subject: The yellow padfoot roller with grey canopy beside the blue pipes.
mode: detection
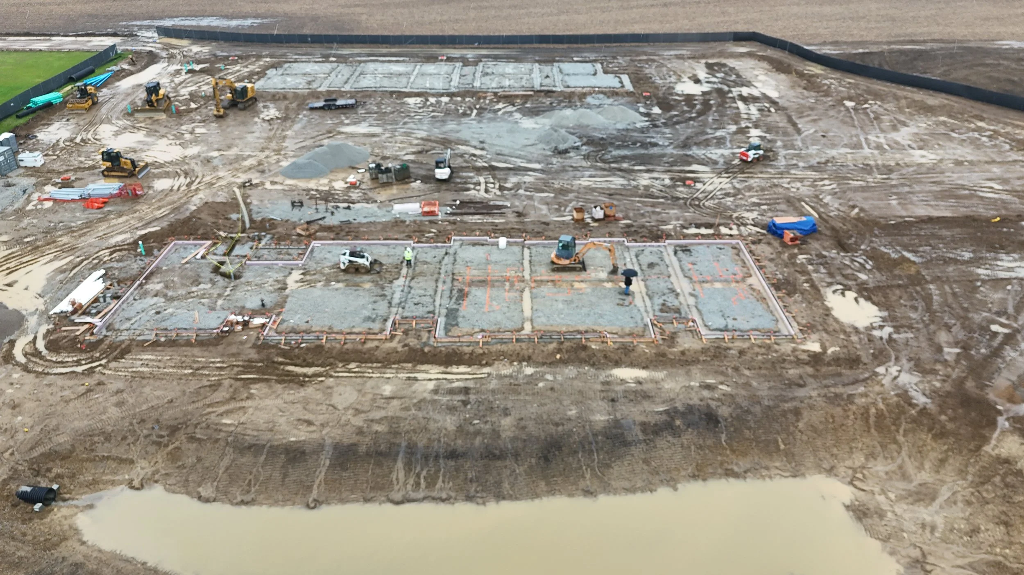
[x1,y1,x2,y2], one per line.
[62,78,109,112]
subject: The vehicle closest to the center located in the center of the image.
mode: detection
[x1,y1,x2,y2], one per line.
[551,231,621,273]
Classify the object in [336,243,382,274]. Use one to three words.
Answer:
work vehicle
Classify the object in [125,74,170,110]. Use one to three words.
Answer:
work vehicle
